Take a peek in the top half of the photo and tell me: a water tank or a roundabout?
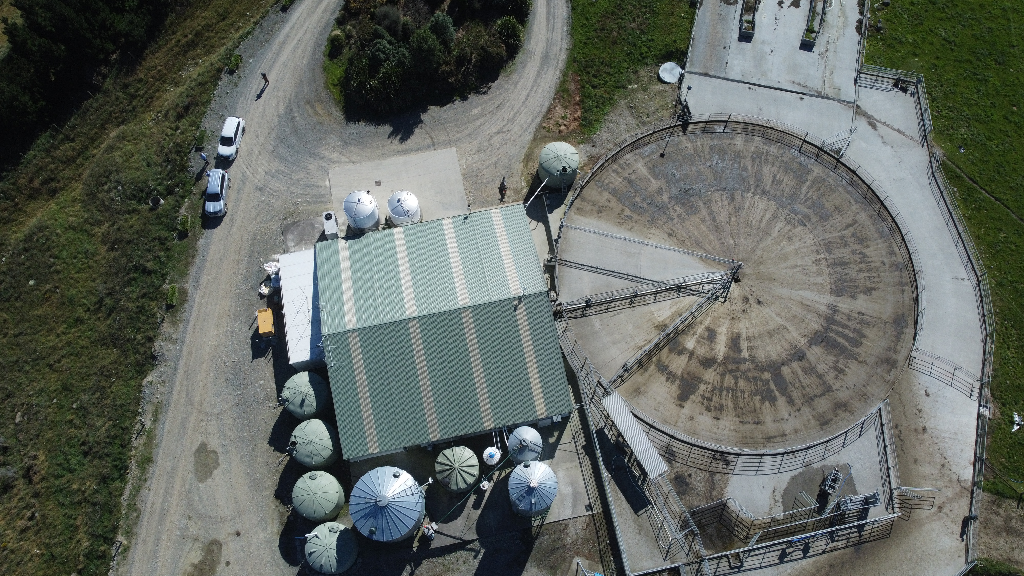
water tank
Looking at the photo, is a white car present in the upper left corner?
Yes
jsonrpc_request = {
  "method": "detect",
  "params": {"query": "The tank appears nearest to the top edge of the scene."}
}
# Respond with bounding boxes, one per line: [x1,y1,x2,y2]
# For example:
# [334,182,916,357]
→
[527,142,582,205]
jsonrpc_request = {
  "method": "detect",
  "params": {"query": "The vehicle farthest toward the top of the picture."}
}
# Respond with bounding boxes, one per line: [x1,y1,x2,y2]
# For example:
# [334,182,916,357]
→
[215,117,246,163]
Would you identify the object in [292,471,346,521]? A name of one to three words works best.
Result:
water tank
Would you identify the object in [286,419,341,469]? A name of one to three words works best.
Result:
water tank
